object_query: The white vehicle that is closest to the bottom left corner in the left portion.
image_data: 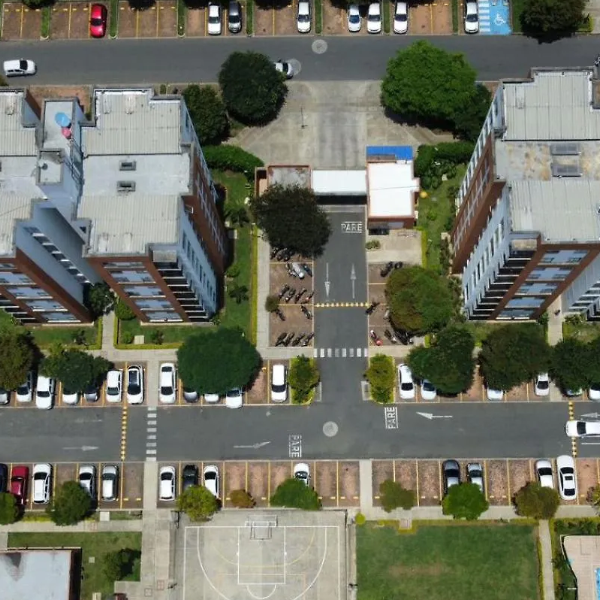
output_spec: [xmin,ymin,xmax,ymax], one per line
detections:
[32,463,54,505]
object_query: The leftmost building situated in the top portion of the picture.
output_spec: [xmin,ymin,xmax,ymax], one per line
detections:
[0,88,225,328]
